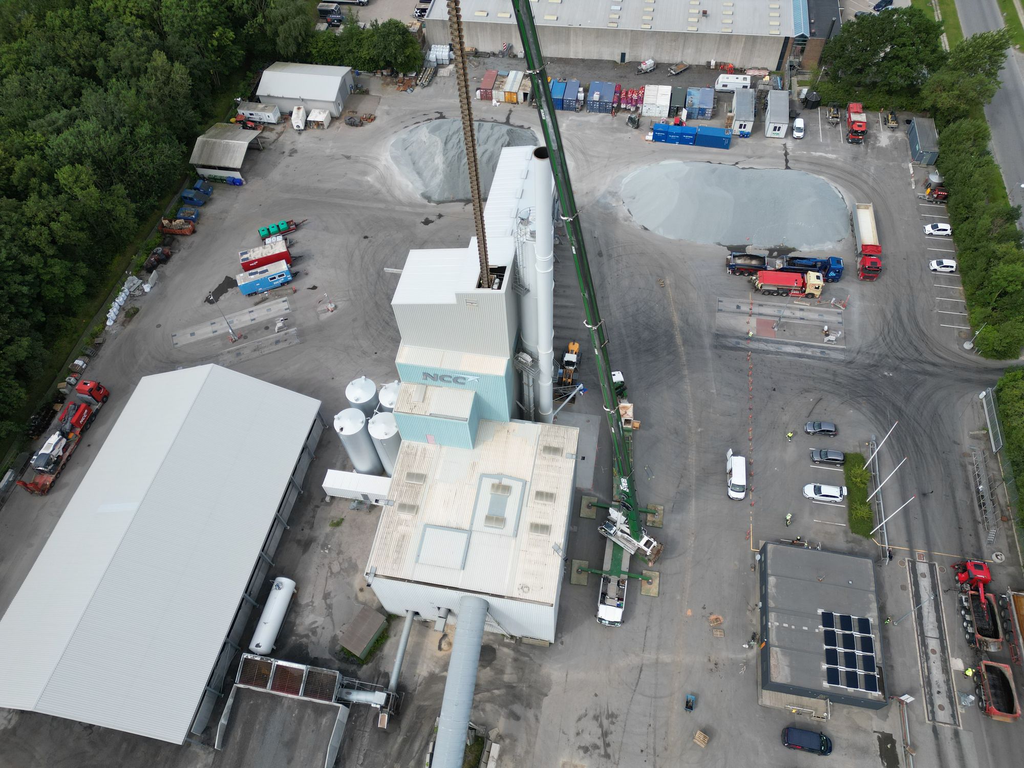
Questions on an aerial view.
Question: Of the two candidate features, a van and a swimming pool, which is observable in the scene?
van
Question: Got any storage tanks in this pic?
Yes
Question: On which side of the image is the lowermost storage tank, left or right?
left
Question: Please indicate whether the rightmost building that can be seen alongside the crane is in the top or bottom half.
bottom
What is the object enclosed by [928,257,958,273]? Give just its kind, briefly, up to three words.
car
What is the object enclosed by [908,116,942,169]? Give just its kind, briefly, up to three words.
shed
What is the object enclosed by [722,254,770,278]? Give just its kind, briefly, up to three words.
trailer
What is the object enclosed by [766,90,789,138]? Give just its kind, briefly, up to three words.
building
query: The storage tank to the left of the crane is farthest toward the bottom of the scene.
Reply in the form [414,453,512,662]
[250,575,299,657]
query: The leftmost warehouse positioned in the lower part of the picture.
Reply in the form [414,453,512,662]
[0,364,328,752]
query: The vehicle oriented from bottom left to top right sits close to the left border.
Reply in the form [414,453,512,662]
[19,382,109,492]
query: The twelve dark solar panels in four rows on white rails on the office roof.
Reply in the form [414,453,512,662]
[815,610,880,697]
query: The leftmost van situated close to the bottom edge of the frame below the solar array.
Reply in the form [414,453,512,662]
[782,726,831,756]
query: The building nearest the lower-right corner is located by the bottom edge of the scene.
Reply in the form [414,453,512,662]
[754,542,890,735]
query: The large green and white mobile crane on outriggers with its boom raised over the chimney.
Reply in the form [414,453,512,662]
[513,0,662,629]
